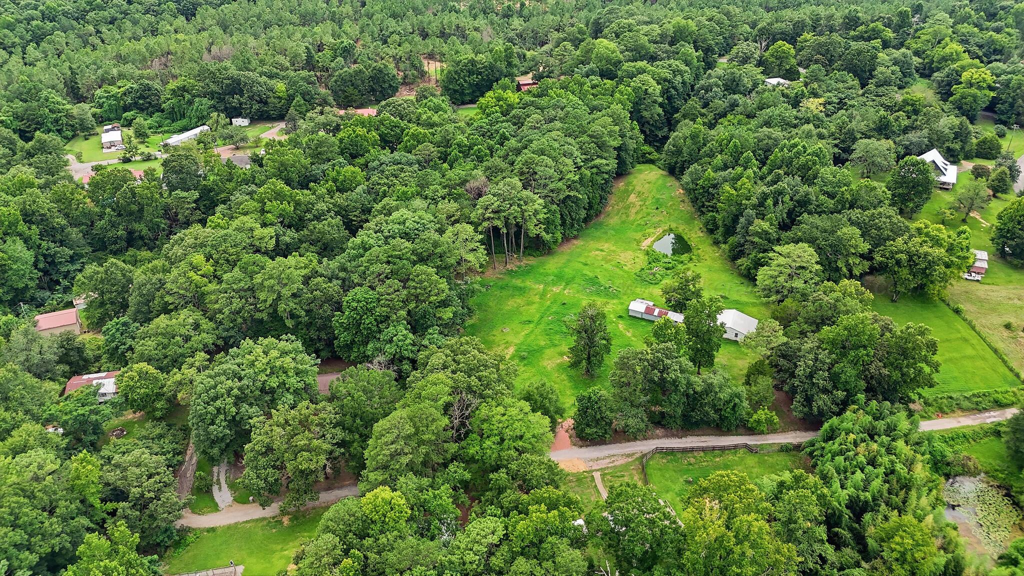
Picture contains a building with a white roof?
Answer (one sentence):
Yes, a building with a white roof is visible in the scene.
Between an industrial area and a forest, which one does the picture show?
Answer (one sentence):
This looks like a forest.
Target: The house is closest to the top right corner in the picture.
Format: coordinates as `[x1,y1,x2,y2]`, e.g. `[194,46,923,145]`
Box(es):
[912,149,963,191]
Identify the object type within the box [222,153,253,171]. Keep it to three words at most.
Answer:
house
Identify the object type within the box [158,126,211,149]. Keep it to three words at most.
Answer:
house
